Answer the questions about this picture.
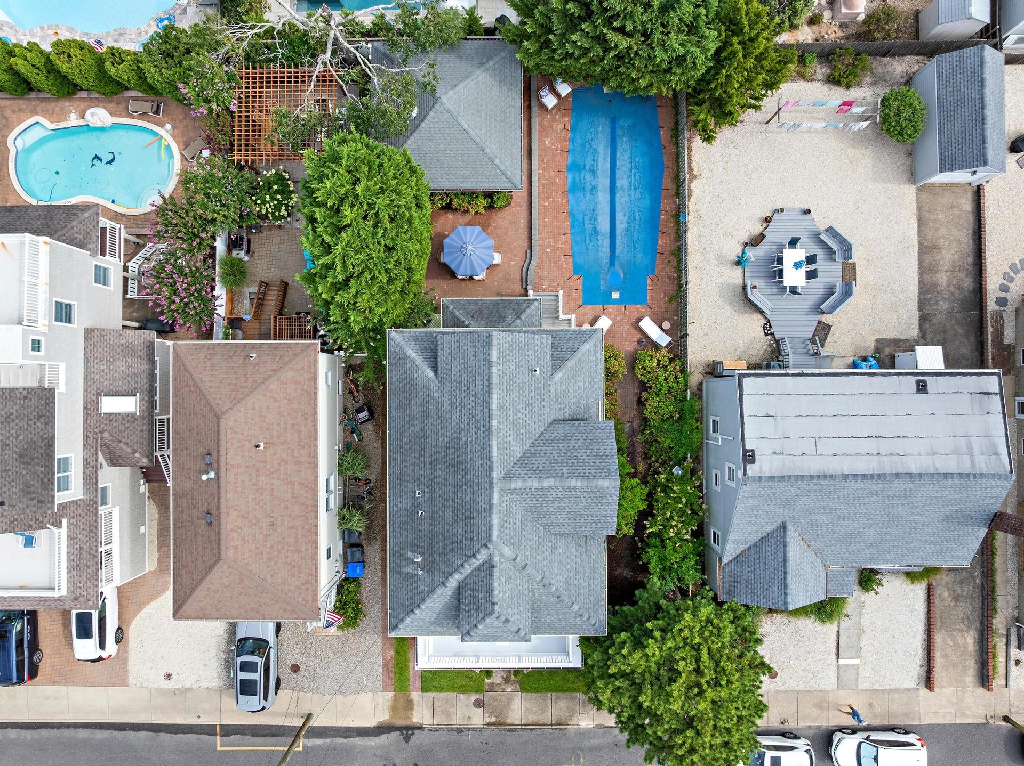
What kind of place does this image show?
residential area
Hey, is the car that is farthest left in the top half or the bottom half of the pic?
bottom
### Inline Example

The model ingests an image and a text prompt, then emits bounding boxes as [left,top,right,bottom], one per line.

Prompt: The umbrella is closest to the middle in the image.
[445,227,492,274]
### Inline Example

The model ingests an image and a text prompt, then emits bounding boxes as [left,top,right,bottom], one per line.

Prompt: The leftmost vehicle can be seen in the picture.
[0,610,41,691]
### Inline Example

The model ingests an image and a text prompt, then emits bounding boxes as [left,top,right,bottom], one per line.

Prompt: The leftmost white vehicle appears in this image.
[68,586,123,665]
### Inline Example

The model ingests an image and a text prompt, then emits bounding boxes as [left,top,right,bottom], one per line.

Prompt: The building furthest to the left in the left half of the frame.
[0,204,175,610]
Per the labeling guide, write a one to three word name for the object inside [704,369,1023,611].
house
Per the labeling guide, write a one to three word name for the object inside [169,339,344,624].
house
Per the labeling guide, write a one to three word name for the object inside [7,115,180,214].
swimming pool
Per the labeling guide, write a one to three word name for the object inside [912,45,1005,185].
shed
